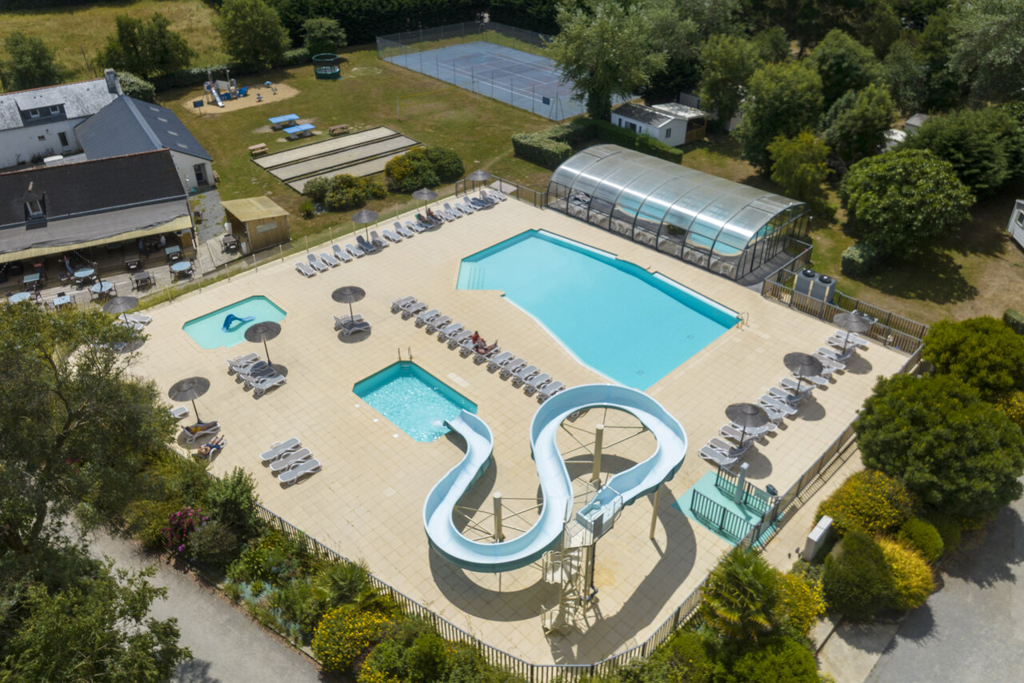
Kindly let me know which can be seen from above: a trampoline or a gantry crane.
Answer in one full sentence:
The image shows a trampoline.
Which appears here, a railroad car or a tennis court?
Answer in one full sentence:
Of the two, only a tennis court appears.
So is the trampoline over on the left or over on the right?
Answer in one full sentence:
The trampoline is on the left side of the image.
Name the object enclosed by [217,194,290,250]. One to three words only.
shed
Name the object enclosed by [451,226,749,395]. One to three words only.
swimming pool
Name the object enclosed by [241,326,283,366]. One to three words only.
umbrella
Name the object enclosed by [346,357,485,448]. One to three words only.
swimming pool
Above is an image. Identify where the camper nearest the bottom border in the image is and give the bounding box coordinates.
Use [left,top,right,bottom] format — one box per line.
[989,203,1024,245]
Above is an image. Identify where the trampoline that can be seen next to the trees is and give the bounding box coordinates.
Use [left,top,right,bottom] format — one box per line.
[309,49,340,78]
